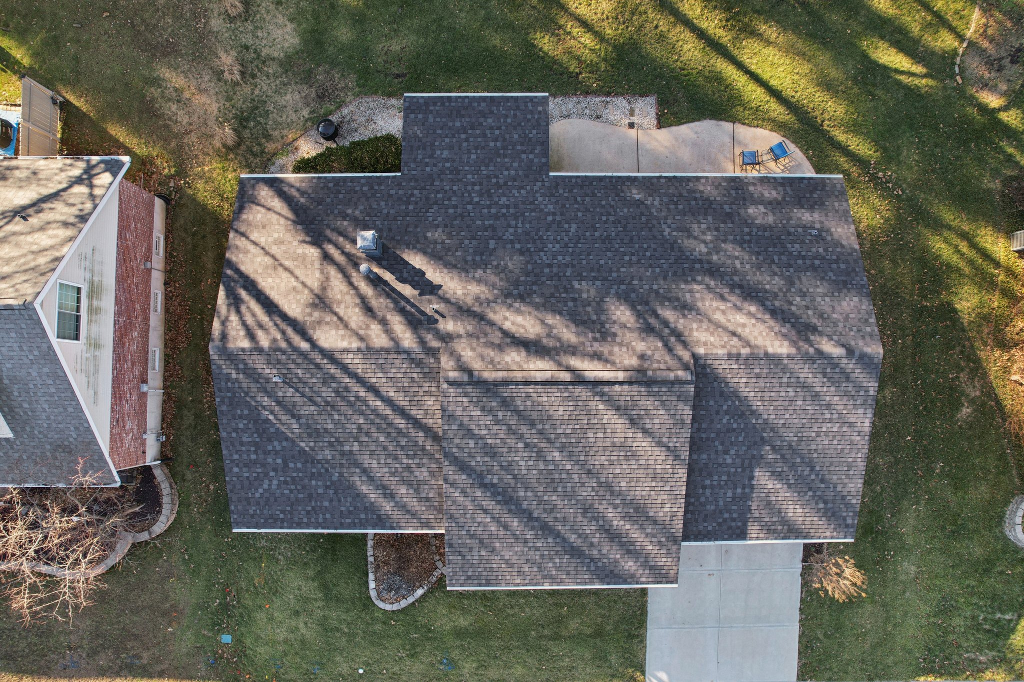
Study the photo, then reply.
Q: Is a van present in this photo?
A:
No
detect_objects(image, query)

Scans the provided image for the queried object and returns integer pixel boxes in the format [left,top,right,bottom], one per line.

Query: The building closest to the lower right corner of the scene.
[209,92,883,592]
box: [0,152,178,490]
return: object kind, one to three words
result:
house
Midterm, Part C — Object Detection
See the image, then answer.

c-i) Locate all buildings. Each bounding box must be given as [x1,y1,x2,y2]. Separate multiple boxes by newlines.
[209,92,883,592]
[0,152,178,490]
